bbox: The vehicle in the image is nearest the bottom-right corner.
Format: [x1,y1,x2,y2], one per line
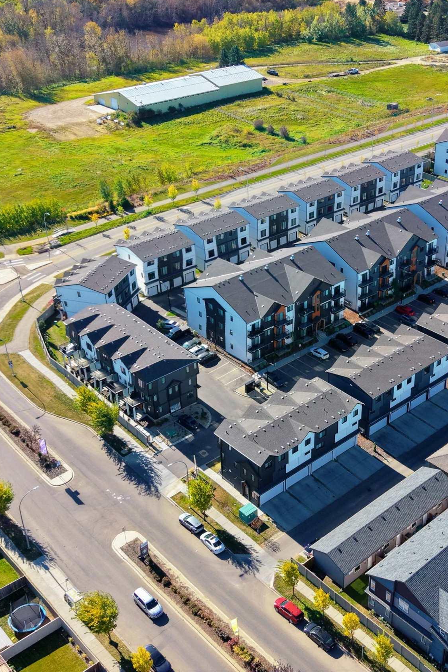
[307,622,336,648]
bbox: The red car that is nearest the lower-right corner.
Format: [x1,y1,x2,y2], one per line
[276,596,305,622]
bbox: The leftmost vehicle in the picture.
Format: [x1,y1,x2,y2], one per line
[134,590,162,616]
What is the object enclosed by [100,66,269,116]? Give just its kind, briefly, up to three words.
barn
